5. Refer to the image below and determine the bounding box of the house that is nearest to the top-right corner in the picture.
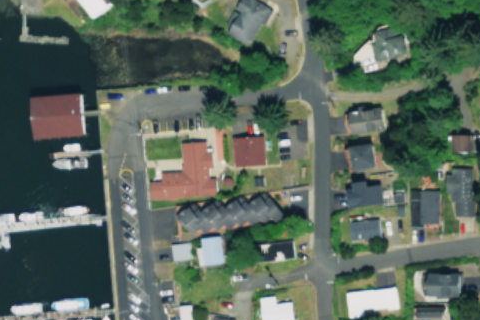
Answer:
[372,28,408,62]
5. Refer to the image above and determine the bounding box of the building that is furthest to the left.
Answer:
[30,94,84,140]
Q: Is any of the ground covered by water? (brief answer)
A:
Yes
